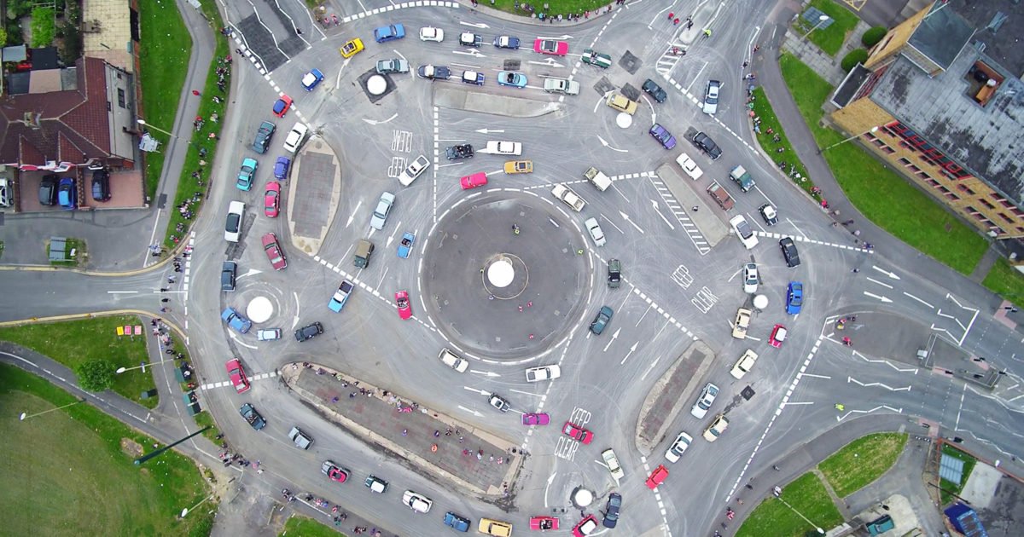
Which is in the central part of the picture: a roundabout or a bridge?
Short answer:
roundabout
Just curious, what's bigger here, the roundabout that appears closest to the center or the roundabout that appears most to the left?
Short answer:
the roundabout that appears closest to the center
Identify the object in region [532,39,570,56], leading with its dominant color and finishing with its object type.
pink car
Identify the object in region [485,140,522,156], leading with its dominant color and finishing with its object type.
white car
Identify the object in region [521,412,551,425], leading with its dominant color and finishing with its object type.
purple vehicle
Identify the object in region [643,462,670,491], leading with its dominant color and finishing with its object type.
red car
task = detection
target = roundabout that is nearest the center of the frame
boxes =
[423,193,589,359]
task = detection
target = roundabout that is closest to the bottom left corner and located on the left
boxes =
[246,296,273,324]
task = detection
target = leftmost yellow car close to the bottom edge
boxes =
[477,517,514,537]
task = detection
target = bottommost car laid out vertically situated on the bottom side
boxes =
[602,491,622,529]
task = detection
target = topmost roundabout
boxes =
[357,68,397,103]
